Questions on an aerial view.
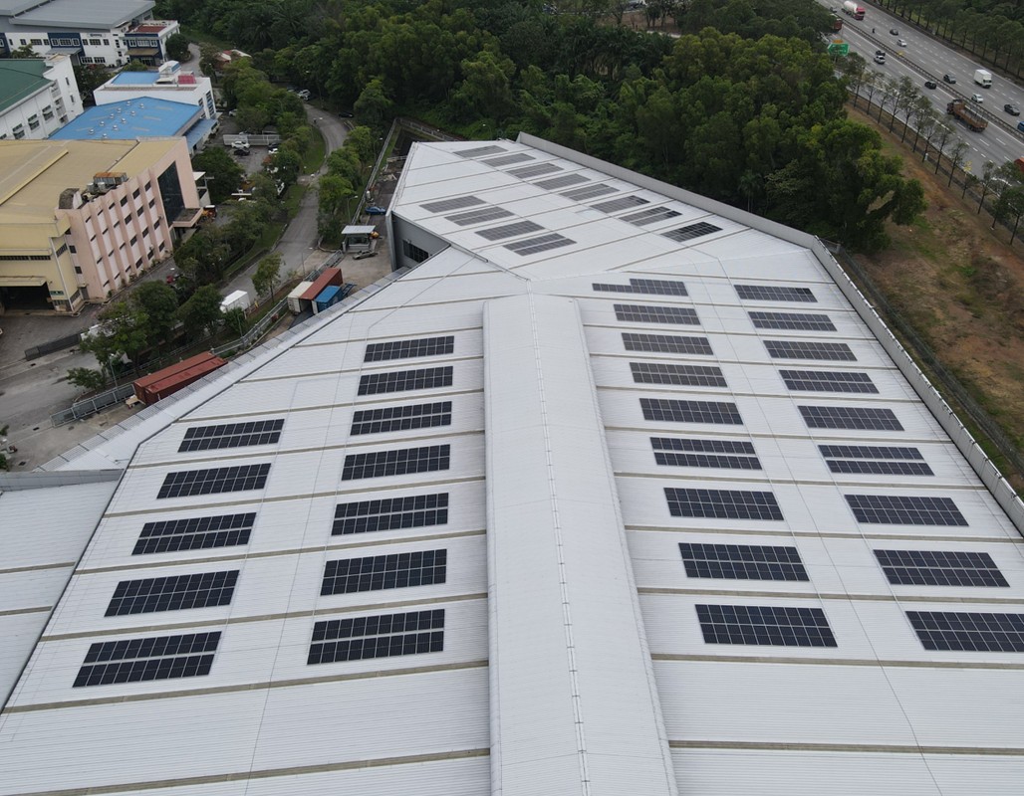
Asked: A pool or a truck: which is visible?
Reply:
truck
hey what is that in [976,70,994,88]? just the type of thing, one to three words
vehicle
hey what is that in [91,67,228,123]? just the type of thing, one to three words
building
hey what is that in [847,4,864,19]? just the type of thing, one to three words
vehicle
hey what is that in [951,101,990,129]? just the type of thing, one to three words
truck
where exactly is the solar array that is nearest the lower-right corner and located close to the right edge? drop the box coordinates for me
[905,609,1024,650]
